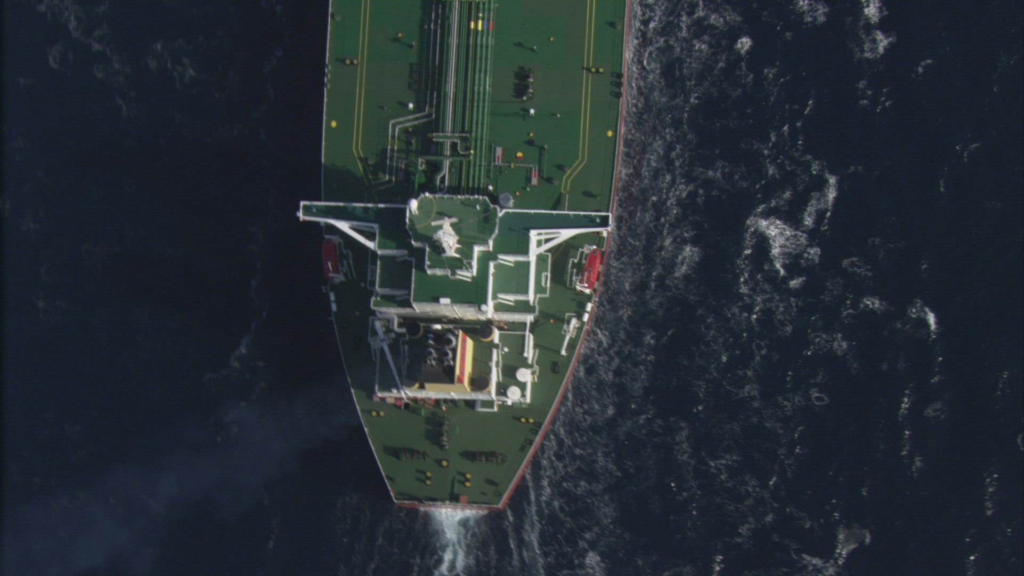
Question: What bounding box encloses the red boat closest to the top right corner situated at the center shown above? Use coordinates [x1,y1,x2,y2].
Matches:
[582,248,602,293]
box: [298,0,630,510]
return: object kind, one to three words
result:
ship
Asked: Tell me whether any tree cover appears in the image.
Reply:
No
